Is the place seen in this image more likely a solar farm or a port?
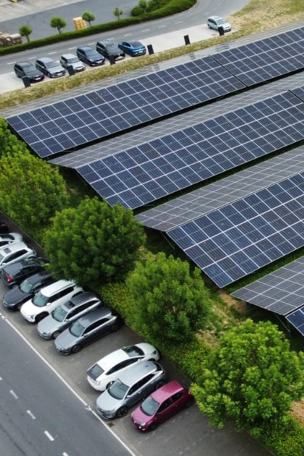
solar farm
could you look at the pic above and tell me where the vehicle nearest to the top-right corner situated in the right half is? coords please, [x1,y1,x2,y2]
[204,13,228,29]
